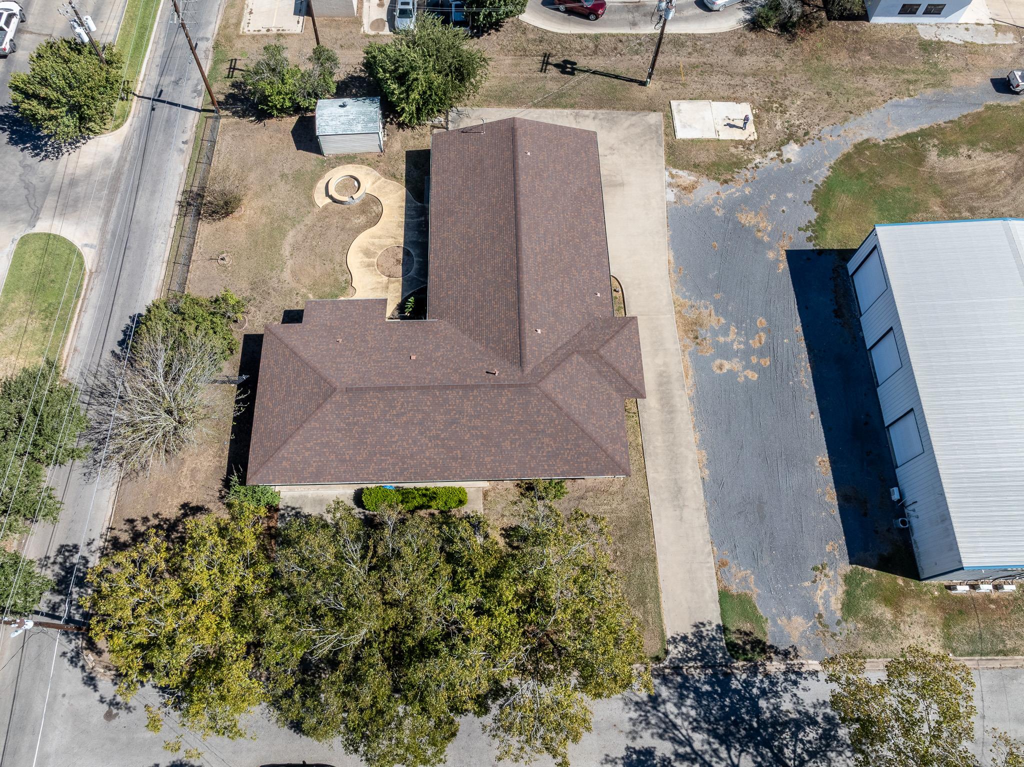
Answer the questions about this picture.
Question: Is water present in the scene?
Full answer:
No, there's no water in this view.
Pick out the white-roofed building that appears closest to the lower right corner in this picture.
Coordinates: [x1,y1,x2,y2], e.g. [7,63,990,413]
[848,215,1024,600]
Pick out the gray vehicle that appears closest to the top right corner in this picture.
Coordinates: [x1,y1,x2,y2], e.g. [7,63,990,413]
[1003,71,1024,97]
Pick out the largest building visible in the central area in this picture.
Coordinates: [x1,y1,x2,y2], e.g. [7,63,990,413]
[244,118,647,488]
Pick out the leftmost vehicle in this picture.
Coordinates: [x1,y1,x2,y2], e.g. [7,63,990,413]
[0,2,27,57]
